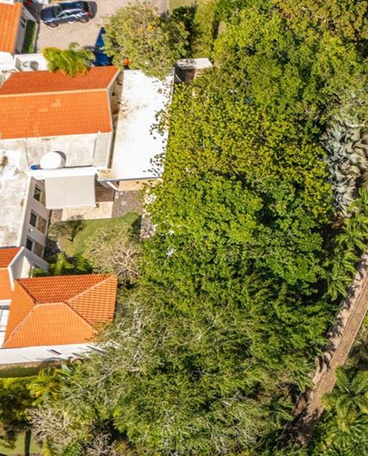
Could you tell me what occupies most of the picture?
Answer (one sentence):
The scene is dominated by trees.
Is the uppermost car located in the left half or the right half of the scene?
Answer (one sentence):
The uppermost car sits on the left side.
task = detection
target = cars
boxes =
[42,0,90,25]
[84,33,118,68]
